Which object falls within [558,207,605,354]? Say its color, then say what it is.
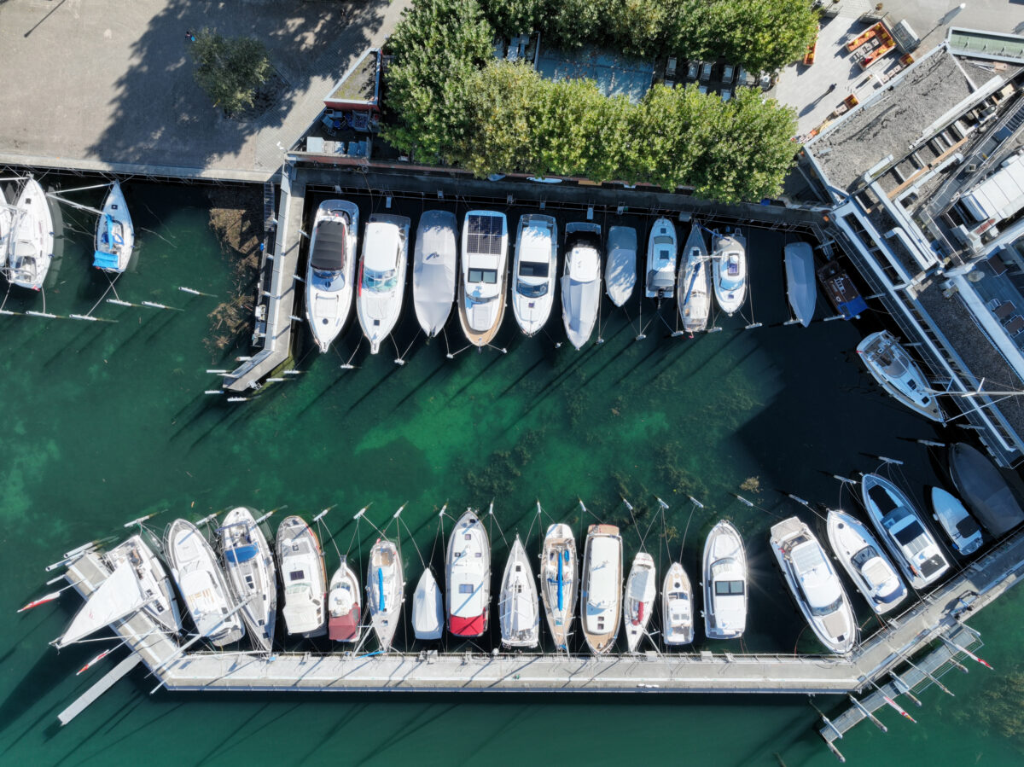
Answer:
white boat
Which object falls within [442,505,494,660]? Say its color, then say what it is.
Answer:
white boat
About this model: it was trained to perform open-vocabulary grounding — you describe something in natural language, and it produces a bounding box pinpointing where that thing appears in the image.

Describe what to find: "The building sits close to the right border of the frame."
[790,26,1024,468]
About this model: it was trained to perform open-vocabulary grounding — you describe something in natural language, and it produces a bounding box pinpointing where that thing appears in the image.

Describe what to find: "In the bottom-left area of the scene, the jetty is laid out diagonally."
[58,652,138,724]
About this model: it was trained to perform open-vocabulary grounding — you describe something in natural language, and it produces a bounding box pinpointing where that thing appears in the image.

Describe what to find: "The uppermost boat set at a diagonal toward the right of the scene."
[816,258,871,323]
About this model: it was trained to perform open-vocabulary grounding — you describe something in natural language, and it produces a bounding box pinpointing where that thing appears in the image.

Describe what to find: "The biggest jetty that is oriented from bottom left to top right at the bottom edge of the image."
[820,622,984,742]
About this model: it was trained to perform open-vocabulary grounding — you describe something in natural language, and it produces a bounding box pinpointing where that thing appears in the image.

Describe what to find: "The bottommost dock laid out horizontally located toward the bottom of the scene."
[62,524,1024,691]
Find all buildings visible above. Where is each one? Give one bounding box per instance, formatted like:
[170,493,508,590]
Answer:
[323,46,386,117]
[790,26,1024,468]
